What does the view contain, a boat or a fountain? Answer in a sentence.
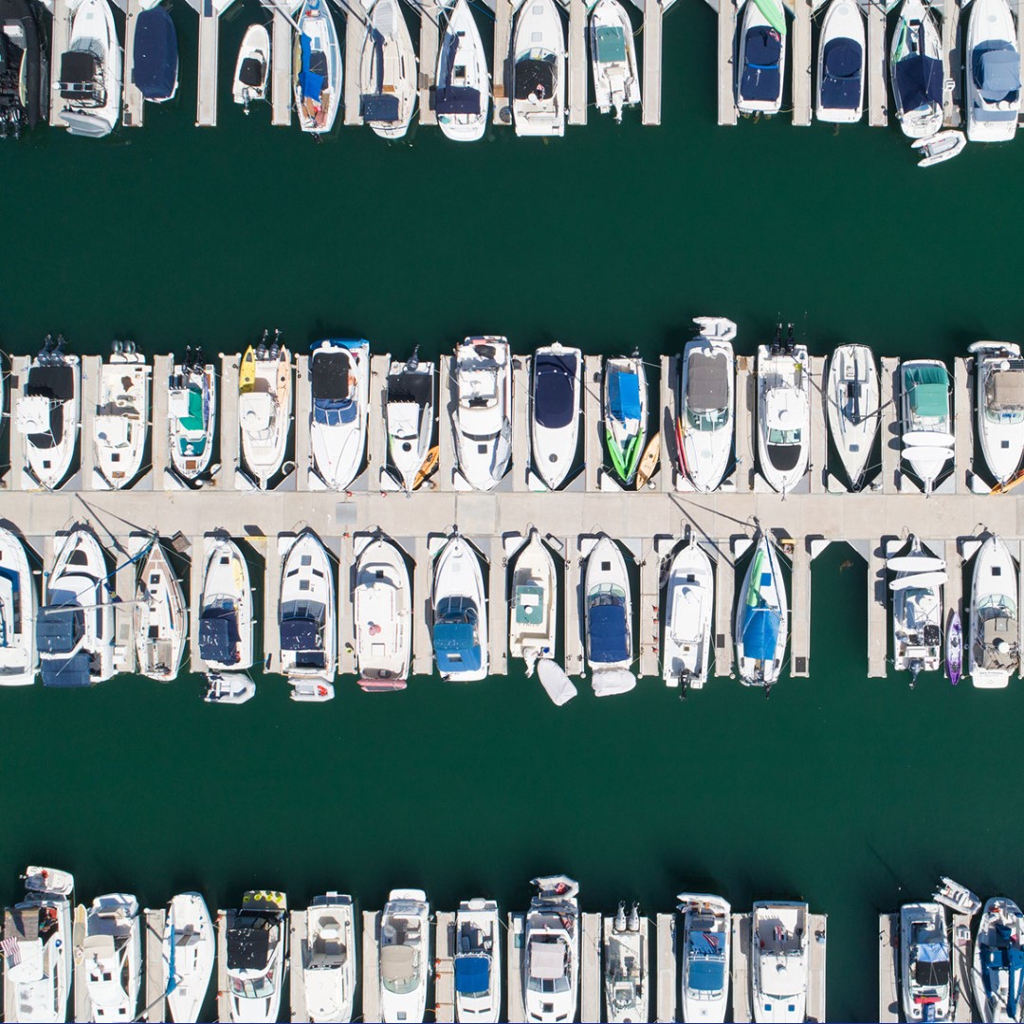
The one in the frame is a boat.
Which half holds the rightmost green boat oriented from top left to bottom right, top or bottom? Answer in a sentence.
The rightmost green boat oriented from top left to bottom right is in the top half of the image.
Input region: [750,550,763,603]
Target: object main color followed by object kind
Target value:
green boat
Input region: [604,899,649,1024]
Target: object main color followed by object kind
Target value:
white boat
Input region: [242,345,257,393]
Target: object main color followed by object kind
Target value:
yellow boat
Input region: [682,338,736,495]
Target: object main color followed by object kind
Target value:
white boat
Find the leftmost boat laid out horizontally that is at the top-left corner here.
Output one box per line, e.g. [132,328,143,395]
[61,112,116,139]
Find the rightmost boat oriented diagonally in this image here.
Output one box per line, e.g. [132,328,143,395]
[991,471,1024,495]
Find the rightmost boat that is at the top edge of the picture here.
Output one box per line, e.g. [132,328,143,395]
[964,0,1023,143]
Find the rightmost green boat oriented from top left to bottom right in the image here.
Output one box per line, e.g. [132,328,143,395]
[754,0,783,35]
